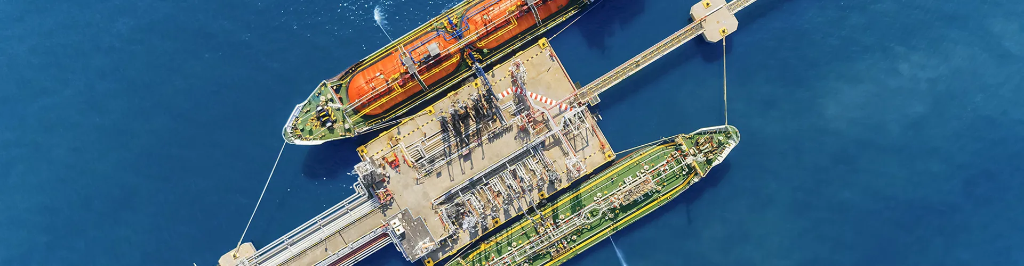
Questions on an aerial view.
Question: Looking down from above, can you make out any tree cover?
No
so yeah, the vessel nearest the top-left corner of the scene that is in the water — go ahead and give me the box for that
[284,0,599,147]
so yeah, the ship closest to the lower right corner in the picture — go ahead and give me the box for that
[438,123,740,266]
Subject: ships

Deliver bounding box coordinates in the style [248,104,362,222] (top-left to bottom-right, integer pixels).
[438,123,740,266]
[284,0,599,147]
